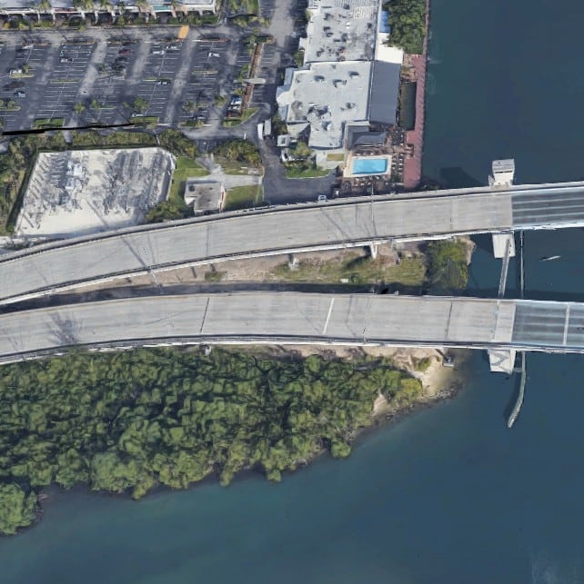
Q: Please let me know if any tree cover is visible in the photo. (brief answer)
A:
Yes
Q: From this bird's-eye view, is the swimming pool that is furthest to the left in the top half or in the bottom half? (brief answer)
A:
top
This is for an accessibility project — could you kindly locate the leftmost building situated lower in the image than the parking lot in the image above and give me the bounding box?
[186,177,227,218]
